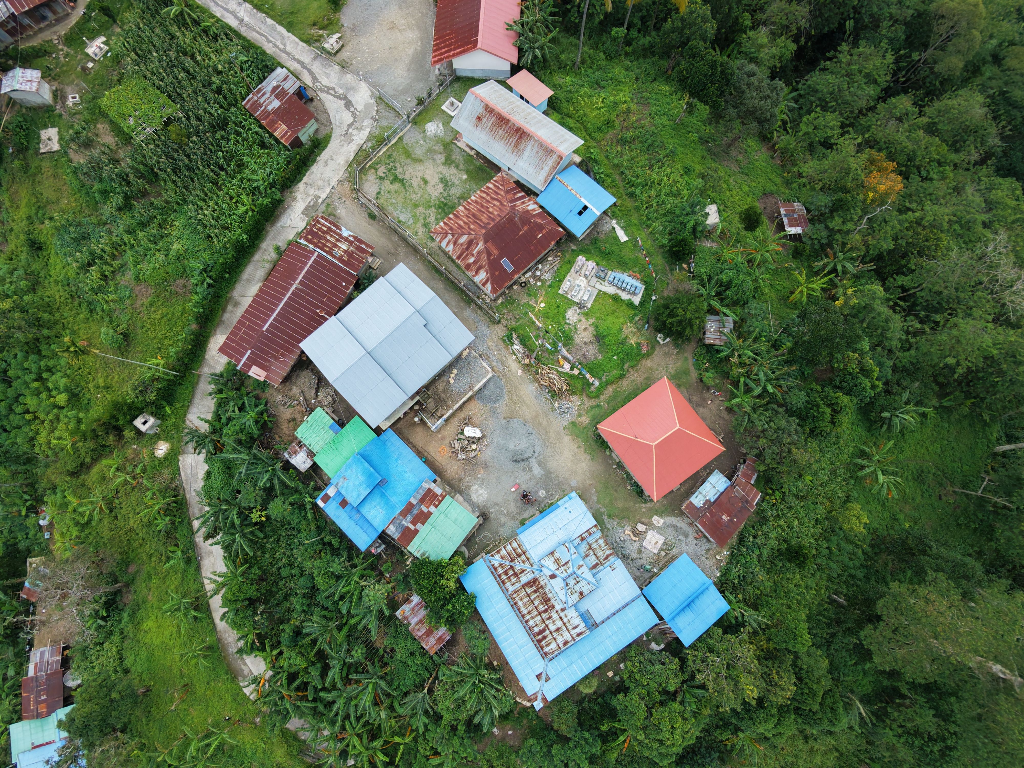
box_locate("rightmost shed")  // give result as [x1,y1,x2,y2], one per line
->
[772,199,809,239]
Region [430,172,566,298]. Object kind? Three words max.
house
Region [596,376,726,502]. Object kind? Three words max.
house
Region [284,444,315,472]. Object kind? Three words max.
shed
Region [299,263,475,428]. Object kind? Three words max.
building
